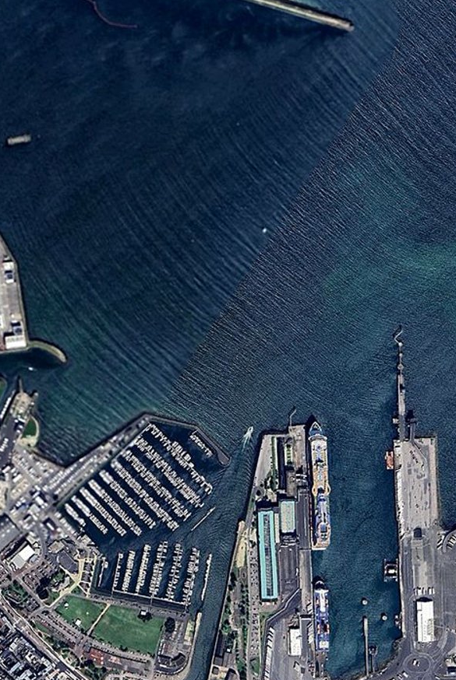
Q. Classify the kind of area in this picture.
port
